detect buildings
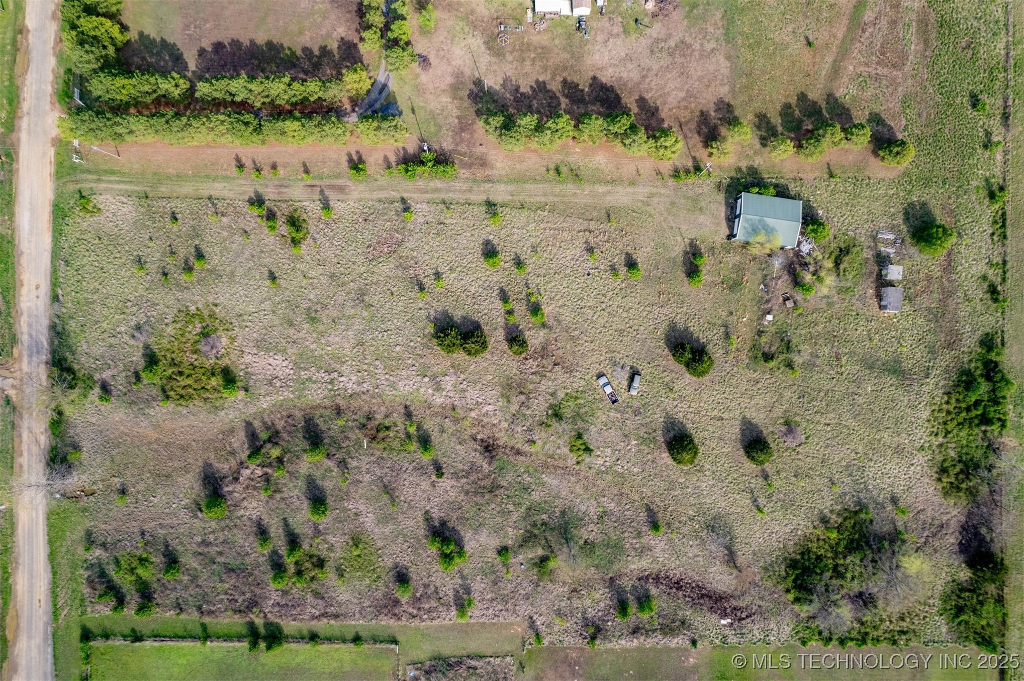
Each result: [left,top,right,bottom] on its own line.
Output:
[876,265,902,280]
[731,192,803,248]
[535,0,572,15]
[875,289,901,314]
[573,0,590,21]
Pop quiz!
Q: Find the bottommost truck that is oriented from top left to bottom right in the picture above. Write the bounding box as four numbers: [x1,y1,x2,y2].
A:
[597,375,620,406]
